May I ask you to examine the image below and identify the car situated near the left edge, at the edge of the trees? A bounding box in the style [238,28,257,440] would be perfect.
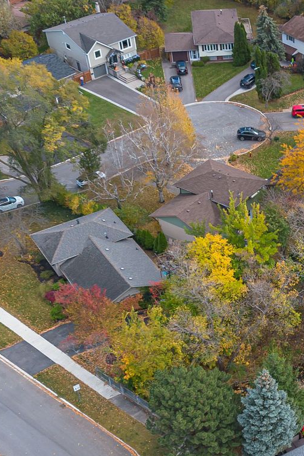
[0,195,23,210]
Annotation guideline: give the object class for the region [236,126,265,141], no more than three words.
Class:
car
